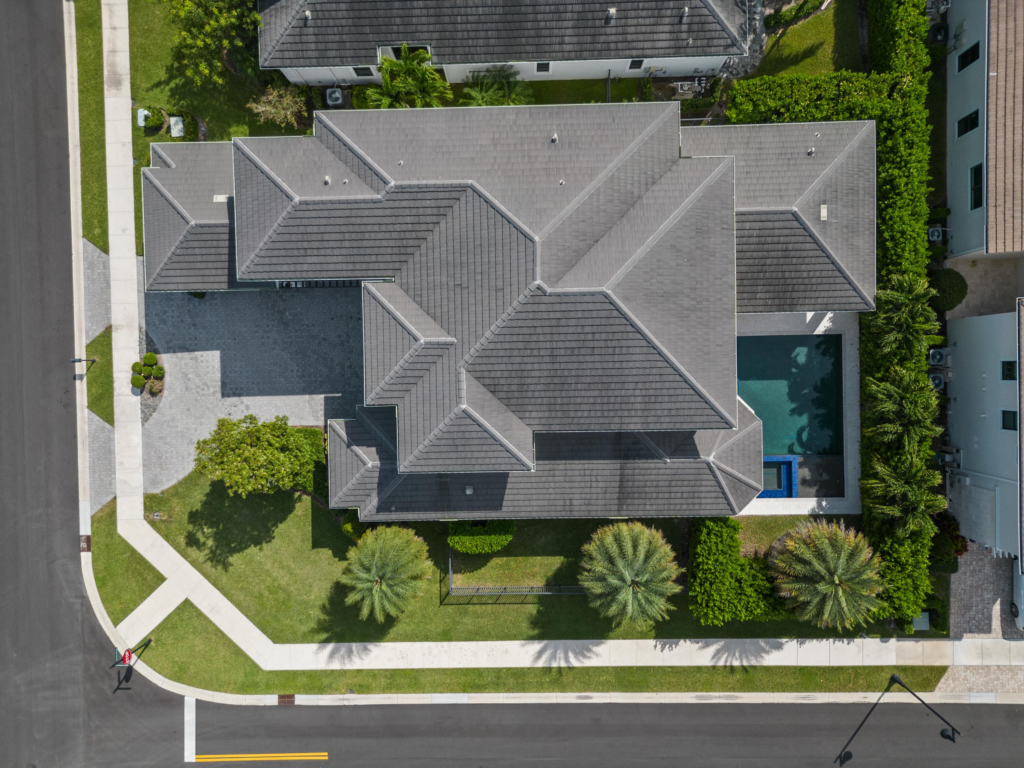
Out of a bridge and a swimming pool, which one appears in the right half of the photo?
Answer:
swimming pool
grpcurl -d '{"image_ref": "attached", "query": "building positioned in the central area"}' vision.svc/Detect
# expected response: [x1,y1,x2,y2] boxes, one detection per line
[141,101,876,521]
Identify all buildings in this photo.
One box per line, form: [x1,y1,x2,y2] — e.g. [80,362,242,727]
[141,101,876,521]
[946,0,1024,260]
[258,0,748,87]
[948,298,1024,575]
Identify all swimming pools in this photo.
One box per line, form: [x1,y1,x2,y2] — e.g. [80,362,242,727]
[738,328,851,505]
